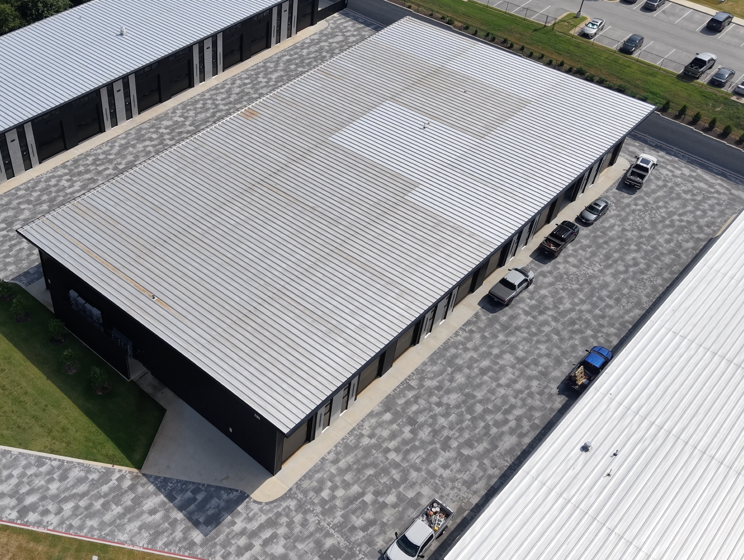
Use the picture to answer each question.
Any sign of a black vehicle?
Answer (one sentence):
Yes, looking at the shot, I can spot a black vehicle.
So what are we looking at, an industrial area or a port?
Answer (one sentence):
The area seen from above is an industrial area.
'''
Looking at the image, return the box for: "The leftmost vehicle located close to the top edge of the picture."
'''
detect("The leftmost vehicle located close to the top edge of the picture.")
[579,18,605,36]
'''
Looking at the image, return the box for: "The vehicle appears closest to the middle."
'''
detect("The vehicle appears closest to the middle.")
[485,263,543,313]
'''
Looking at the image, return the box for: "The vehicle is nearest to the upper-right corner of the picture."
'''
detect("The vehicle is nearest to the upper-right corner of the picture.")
[705,10,734,32]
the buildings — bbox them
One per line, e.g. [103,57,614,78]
[15,17,657,477]
[432,207,744,560]
[0,0,320,184]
